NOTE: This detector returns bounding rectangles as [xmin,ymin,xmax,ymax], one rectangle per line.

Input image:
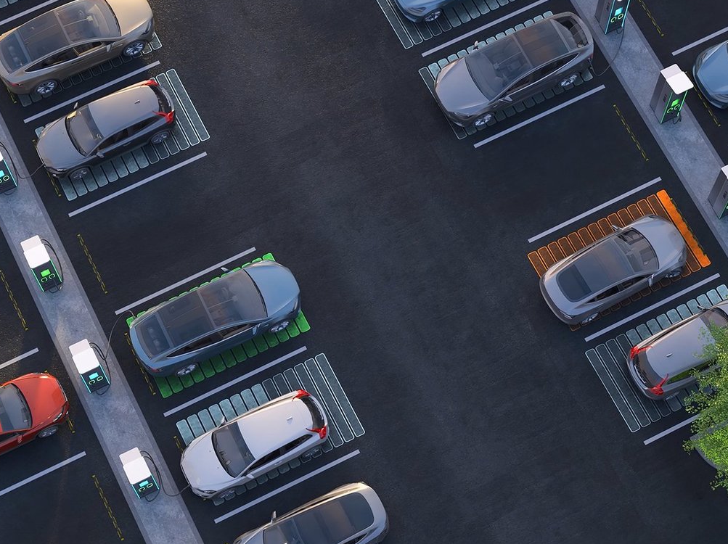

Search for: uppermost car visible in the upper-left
[0,0,155,93]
